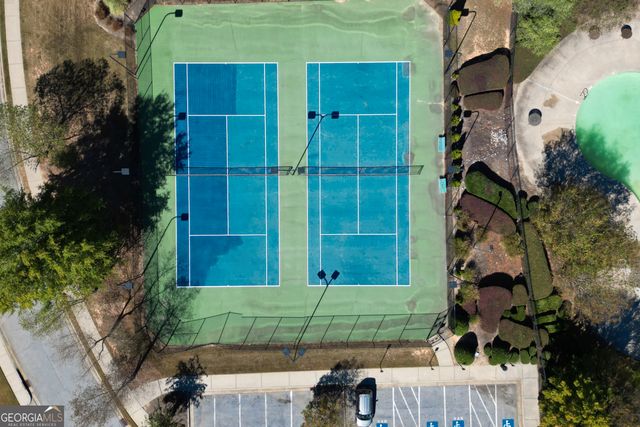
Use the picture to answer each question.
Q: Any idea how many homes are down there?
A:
0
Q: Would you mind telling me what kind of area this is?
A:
sports ground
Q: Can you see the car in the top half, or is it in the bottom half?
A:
bottom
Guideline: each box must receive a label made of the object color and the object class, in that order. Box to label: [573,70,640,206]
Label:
green swimming pool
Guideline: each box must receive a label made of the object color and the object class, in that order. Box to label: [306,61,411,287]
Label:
blue tennis court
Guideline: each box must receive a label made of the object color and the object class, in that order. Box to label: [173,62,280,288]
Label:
blue tennis court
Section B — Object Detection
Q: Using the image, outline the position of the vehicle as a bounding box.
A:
[356,387,376,427]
